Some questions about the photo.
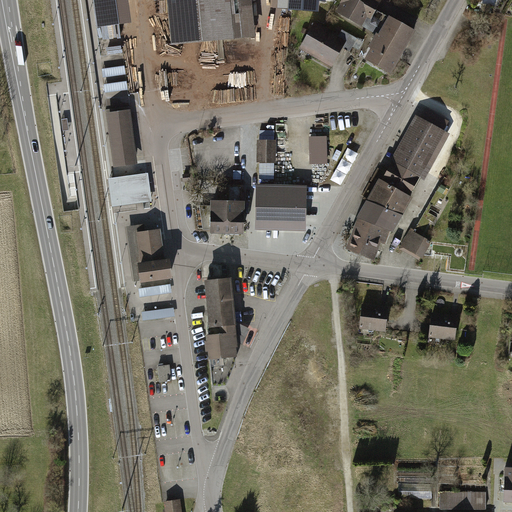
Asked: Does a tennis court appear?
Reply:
No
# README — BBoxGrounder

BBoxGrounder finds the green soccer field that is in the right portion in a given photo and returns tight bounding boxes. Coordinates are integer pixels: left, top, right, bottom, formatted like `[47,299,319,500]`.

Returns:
[475,14,512,274]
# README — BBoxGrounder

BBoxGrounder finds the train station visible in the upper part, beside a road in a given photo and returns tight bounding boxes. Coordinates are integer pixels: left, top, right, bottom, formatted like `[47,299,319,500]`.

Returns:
[47,0,126,288]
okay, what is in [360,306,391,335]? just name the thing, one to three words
house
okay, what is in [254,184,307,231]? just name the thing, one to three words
building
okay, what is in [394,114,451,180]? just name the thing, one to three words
barn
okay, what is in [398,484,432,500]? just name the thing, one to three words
greenhouse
